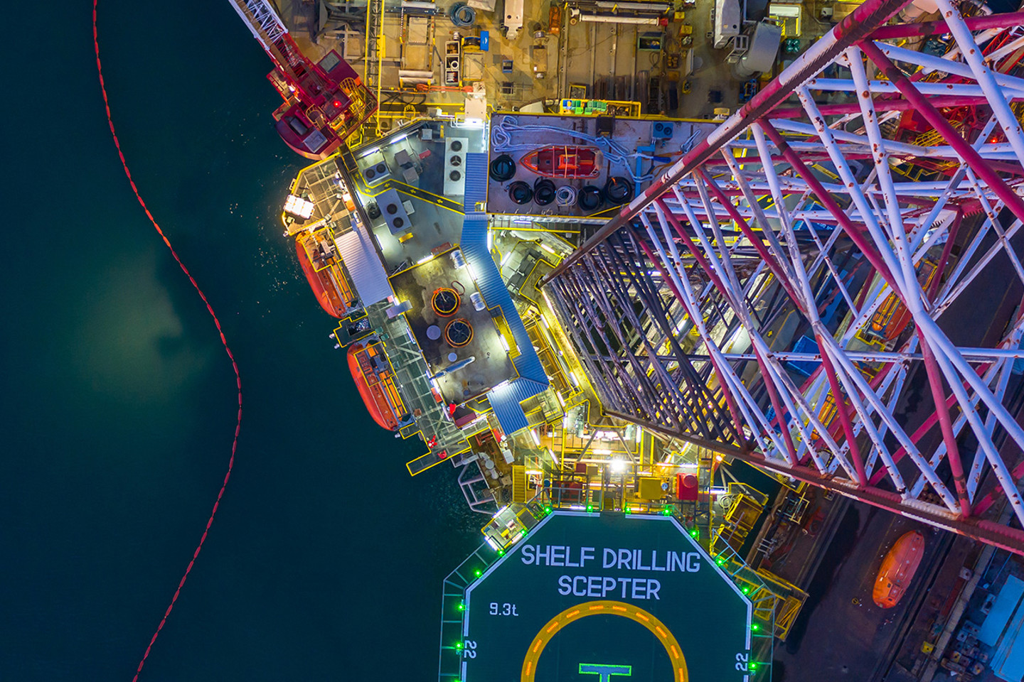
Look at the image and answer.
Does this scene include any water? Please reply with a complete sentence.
Yes, there is water in the image.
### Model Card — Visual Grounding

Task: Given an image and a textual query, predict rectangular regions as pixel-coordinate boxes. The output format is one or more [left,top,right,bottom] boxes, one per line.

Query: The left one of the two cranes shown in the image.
[230,0,378,170]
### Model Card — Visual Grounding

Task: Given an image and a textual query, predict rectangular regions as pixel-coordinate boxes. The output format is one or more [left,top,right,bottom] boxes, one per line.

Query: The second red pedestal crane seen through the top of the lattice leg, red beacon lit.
[890,60,1024,180]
